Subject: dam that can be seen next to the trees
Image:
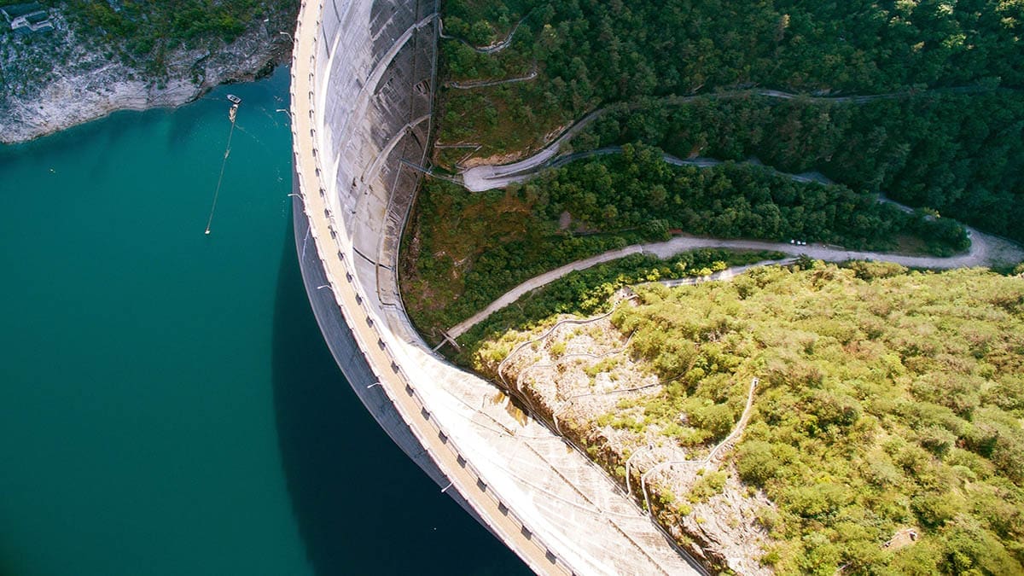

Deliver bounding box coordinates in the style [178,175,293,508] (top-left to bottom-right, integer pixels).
[287,0,711,576]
